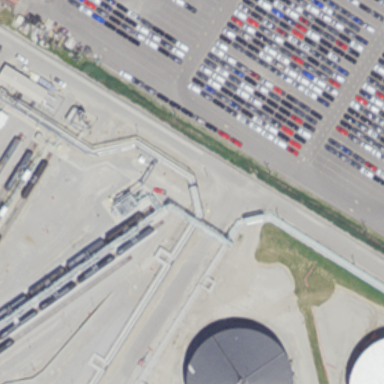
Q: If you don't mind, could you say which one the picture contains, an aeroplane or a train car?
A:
train car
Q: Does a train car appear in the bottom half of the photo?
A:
Yes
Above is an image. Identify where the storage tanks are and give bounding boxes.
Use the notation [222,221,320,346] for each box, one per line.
[184,326,296,384]
[346,336,384,384]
